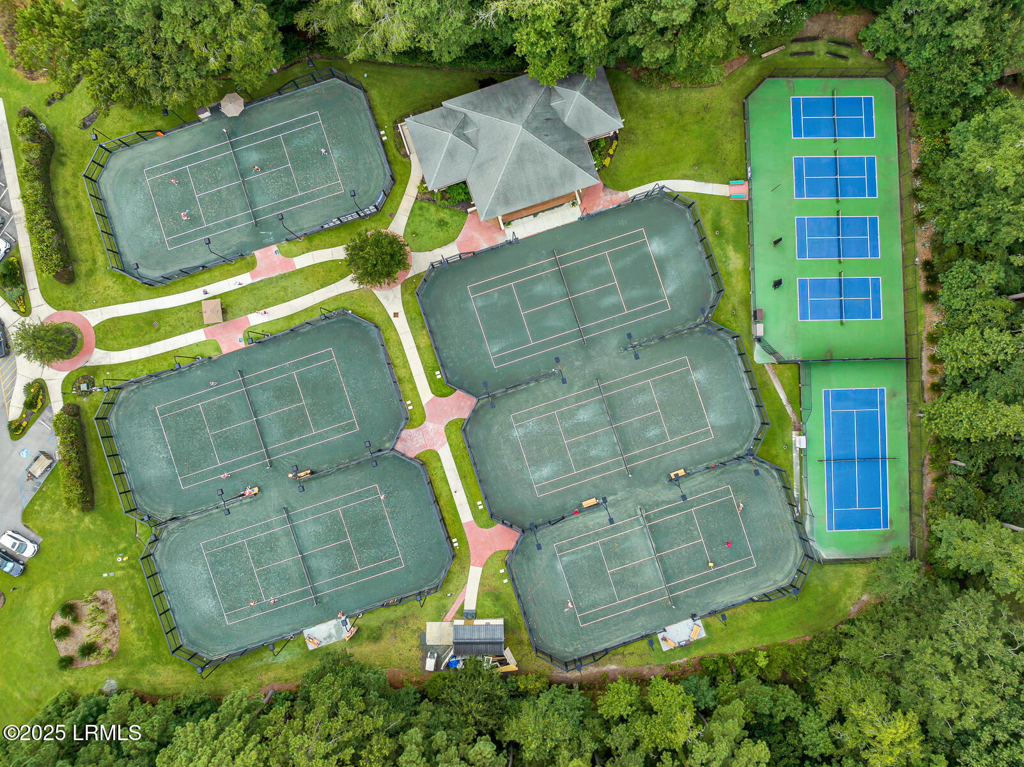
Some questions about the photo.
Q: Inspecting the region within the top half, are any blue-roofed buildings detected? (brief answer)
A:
No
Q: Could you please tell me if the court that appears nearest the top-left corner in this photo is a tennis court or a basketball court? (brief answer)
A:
tennis court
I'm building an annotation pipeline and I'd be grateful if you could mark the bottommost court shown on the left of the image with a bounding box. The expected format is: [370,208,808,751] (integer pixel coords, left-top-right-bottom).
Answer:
[153,452,453,658]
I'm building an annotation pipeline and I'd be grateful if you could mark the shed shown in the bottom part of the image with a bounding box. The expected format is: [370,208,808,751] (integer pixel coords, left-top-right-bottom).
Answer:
[451,618,504,656]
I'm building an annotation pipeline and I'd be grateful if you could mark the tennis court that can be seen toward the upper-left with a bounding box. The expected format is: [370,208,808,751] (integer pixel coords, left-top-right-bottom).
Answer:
[98,79,392,284]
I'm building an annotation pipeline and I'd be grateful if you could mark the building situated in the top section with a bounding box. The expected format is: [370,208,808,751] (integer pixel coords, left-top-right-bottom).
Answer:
[396,55,627,230]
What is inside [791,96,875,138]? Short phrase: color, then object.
blue tennis court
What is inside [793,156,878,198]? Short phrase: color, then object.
blue tennis court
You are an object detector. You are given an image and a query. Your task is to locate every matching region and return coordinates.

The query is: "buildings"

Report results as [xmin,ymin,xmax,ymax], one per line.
[451,618,504,656]
[396,55,627,230]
